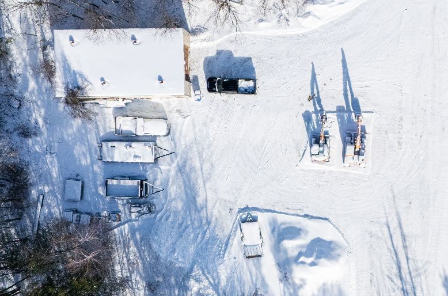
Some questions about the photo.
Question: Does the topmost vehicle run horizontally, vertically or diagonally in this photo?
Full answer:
The topmost vehicle is laid out horizontally.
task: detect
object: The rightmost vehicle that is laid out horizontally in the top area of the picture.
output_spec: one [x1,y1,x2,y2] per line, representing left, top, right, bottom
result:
[206,76,259,96]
